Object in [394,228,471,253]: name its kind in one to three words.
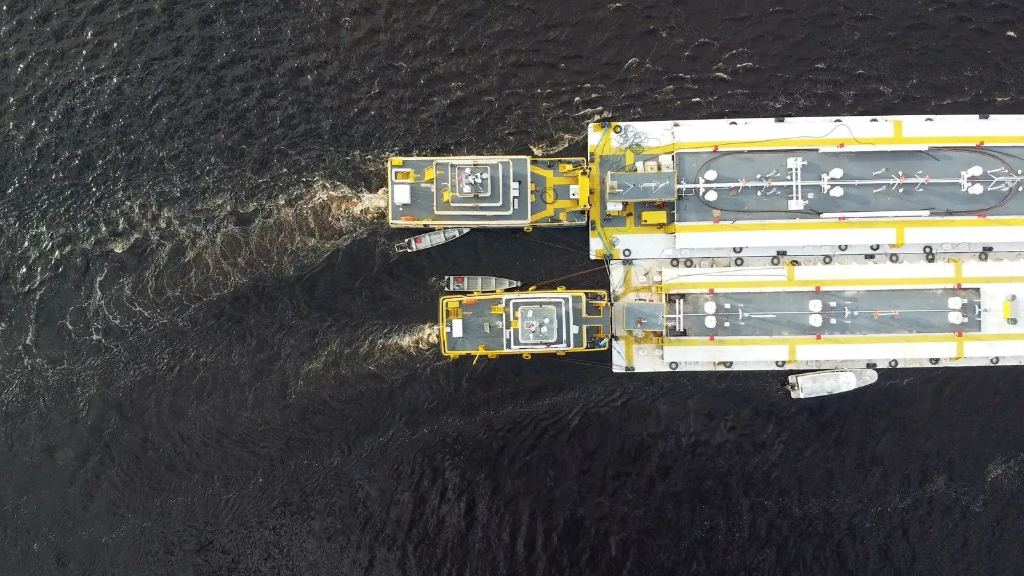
boat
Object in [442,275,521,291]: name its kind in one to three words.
boat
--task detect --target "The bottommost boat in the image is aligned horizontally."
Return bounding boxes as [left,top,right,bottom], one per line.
[785,367,878,398]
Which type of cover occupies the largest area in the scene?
water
